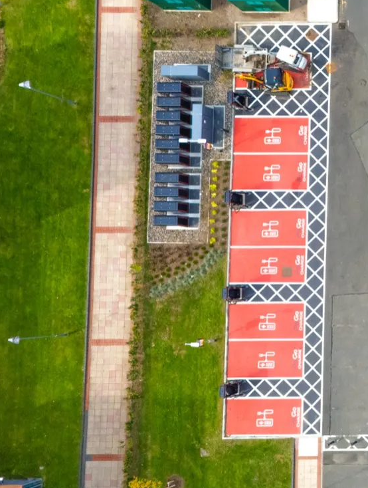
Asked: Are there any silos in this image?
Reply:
No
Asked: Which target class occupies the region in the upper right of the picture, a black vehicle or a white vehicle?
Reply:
white vehicle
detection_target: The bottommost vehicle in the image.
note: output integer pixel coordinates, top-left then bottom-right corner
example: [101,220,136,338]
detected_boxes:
[239,70,300,99]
